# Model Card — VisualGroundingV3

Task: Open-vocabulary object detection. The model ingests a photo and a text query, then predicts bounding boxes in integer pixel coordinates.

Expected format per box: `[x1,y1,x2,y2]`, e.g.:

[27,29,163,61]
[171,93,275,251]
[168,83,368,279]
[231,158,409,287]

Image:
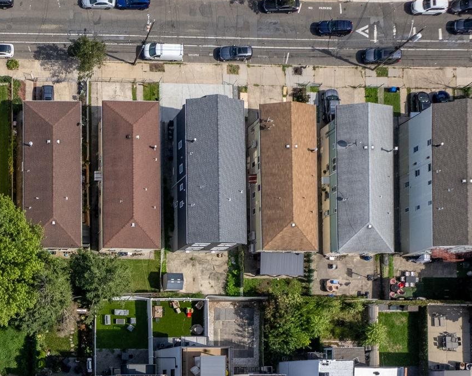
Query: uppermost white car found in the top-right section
[411,0,448,15]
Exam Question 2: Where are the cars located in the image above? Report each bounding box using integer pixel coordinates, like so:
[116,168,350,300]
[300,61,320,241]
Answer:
[0,44,15,60]
[411,0,448,15]
[261,0,296,14]
[452,18,472,36]
[218,44,253,63]
[364,46,400,65]
[0,0,11,10]
[432,88,451,103]
[412,92,431,117]
[449,0,472,15]
[321,90,342,119]
[81,0,114,11]
[40,82,56,102]
[316,18,354,36]
[115,0,149,11]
